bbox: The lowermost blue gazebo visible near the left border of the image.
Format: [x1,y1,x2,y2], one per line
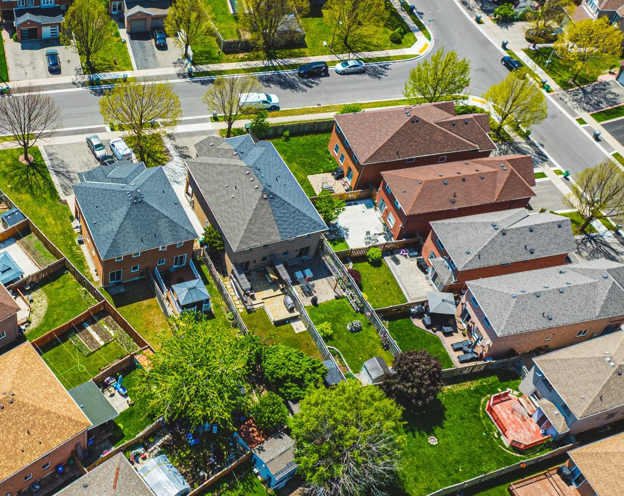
[0,250,26,288]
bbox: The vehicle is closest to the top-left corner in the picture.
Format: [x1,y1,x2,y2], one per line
[45,49,59,69]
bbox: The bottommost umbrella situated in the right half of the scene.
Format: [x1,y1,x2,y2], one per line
[427,292,459,314]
